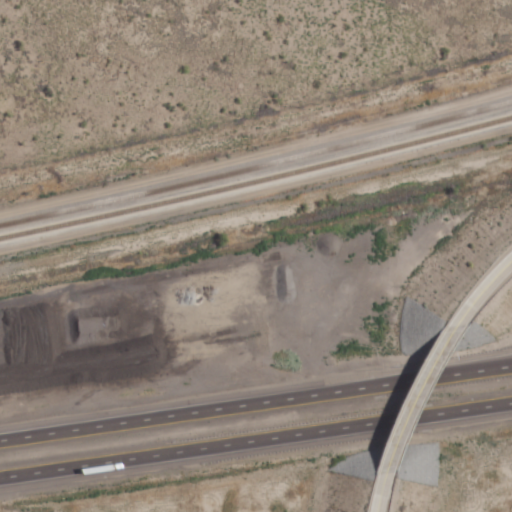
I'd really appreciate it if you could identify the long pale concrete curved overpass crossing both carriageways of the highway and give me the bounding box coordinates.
[371,279,496,504]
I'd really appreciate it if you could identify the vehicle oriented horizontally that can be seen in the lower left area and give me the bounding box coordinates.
[82,462,125,474]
